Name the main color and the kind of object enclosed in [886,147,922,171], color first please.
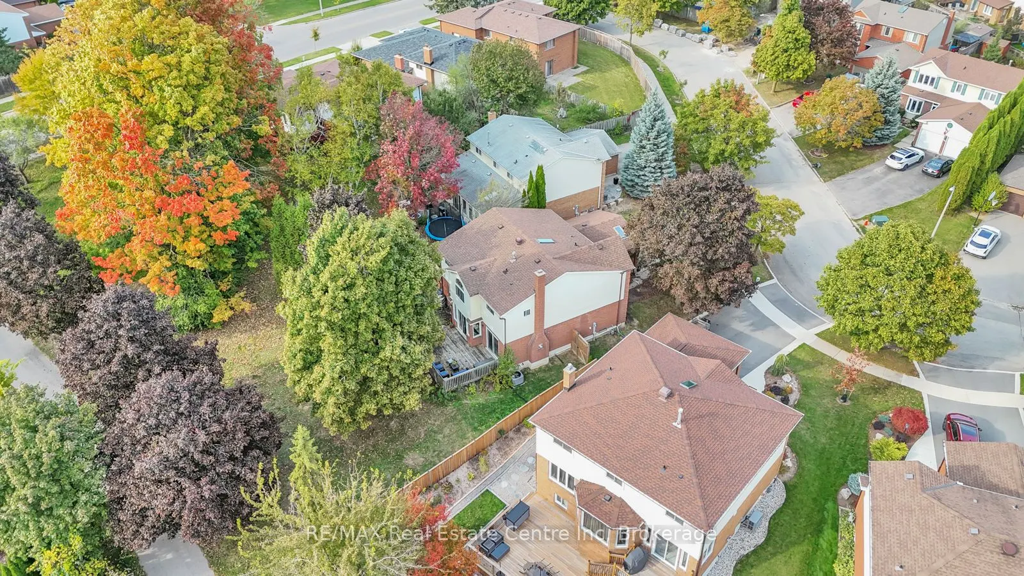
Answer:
white car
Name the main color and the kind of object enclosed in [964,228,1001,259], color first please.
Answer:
white car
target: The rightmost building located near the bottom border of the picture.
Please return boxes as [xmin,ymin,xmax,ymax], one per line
[854,436,1024,576]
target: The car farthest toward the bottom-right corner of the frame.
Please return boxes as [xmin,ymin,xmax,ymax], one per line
[946,412,988,440]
